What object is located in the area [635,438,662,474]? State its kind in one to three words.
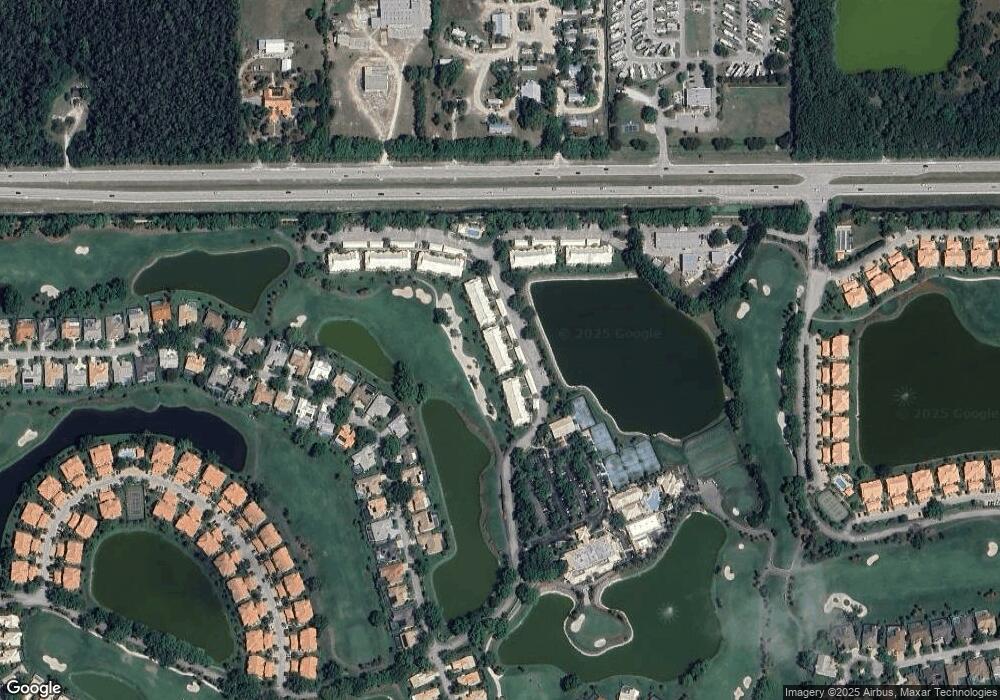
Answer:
tennis court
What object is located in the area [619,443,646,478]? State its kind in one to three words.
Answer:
tennis court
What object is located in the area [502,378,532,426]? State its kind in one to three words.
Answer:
building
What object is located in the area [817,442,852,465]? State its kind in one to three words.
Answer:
house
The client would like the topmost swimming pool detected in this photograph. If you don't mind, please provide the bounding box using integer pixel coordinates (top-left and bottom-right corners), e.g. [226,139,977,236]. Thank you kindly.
[458,223,484,239]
